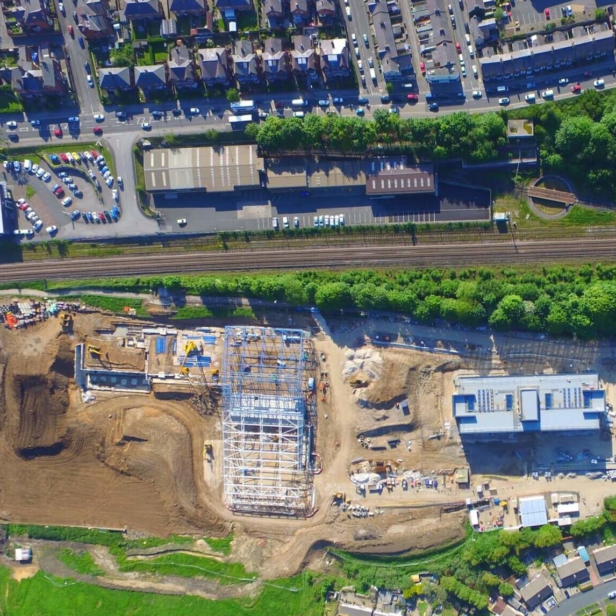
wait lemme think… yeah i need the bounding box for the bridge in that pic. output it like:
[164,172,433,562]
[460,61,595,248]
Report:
[528,186,575,206]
